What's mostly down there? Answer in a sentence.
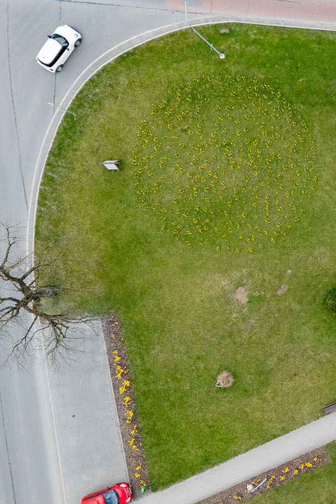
The scene is dominated by grass.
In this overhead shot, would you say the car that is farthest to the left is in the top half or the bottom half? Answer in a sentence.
The top half of the photo is where the car that is farthest to the left is.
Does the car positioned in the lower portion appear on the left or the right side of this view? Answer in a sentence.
You can find the car positioned in the lower portion on the left side of the picture.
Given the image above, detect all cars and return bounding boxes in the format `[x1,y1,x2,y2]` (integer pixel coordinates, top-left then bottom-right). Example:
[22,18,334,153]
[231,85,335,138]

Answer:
[78,480,137,504]
[37,26,81,75]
